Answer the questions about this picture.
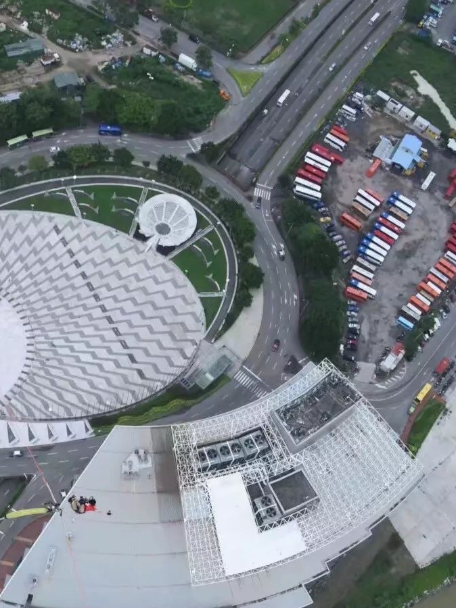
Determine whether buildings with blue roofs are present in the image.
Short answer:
Yes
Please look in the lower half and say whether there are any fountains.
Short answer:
No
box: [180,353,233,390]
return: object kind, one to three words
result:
building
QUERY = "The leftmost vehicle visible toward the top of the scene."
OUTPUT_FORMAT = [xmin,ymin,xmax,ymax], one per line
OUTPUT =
[7,137,29,153]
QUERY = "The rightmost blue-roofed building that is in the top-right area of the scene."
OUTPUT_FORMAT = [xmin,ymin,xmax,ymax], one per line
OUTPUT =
[388,134,423,178]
